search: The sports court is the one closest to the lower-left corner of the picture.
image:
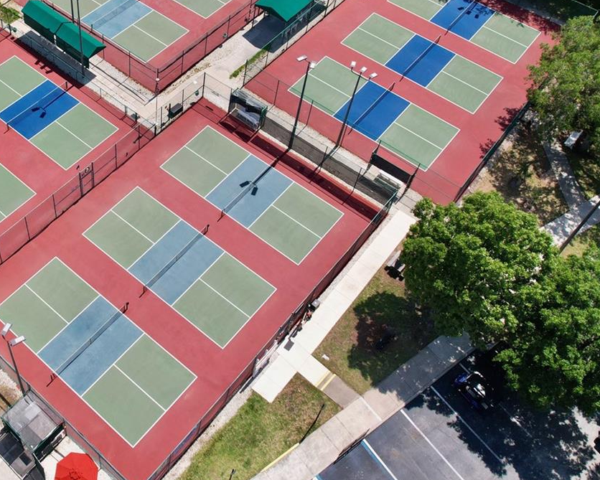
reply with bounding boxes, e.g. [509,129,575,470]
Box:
[0,256,195,446]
